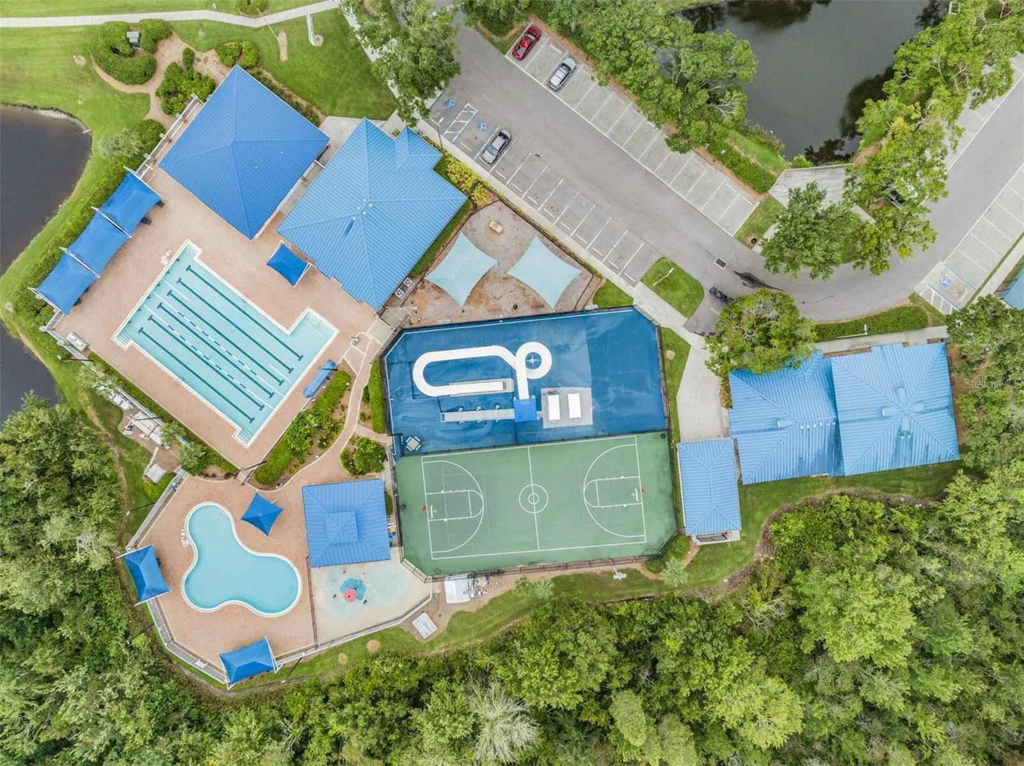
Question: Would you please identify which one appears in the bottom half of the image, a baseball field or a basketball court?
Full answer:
Looking in the bottom half of the image, you will find a basketball court.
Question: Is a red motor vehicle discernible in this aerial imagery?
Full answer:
Yes, there is a red motor vehicle in the image.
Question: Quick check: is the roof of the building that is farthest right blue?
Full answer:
Yes, the roof of the building that is farthest right is blue.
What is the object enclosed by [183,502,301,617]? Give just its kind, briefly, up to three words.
swimming pool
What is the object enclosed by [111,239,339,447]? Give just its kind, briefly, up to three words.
swimming pool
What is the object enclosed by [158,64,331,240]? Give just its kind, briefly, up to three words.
building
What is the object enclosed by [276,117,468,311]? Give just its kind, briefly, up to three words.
building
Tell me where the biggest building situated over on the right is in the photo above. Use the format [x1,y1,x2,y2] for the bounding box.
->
[728,337,961,486]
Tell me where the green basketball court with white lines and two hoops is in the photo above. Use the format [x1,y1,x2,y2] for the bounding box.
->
[397,432,677,576]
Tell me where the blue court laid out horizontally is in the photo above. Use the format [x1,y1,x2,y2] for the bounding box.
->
[383,306,666,460]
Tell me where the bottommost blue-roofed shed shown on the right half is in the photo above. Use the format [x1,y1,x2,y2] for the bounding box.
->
[677,438,741,542]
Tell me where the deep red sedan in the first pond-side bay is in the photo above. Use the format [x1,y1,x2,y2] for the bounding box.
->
[511,26,542,64]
